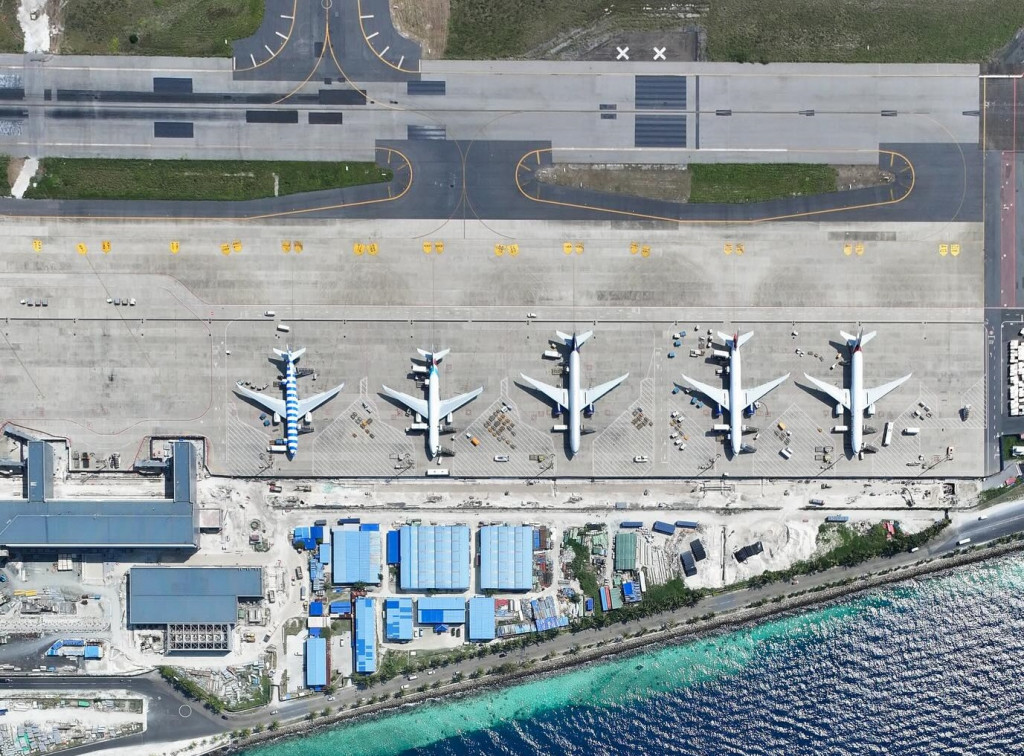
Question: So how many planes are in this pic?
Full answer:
The number of planes here is 5.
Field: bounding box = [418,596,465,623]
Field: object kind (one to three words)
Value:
shed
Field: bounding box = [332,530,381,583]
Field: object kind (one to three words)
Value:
building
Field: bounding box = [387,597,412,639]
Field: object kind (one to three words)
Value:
shed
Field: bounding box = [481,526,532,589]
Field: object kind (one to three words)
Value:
building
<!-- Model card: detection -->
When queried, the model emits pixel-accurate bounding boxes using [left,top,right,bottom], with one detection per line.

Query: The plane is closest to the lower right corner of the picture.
[803,330,912,455]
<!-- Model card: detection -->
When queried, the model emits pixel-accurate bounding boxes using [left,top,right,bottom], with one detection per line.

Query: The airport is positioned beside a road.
[0,0,1024,477]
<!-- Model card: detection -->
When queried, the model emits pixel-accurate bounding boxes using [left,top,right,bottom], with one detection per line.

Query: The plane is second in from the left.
[383,347,484,458]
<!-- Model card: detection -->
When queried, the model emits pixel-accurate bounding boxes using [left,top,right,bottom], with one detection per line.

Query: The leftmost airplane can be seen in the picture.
[235,346,343,457]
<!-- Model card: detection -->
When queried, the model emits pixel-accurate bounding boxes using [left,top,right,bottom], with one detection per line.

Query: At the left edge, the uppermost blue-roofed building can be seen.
[0,424,201,545]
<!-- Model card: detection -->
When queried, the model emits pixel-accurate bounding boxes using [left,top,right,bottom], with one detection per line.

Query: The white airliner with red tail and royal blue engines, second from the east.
[681,331,791,456]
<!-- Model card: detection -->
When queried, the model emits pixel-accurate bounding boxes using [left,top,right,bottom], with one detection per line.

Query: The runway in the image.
[0,53,980,219]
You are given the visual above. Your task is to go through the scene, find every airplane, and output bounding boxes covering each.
[681,331,791,456]
[803,330,912,455]
[520,331,628,455]
[235,346,343,457]
[383,347,484,458]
